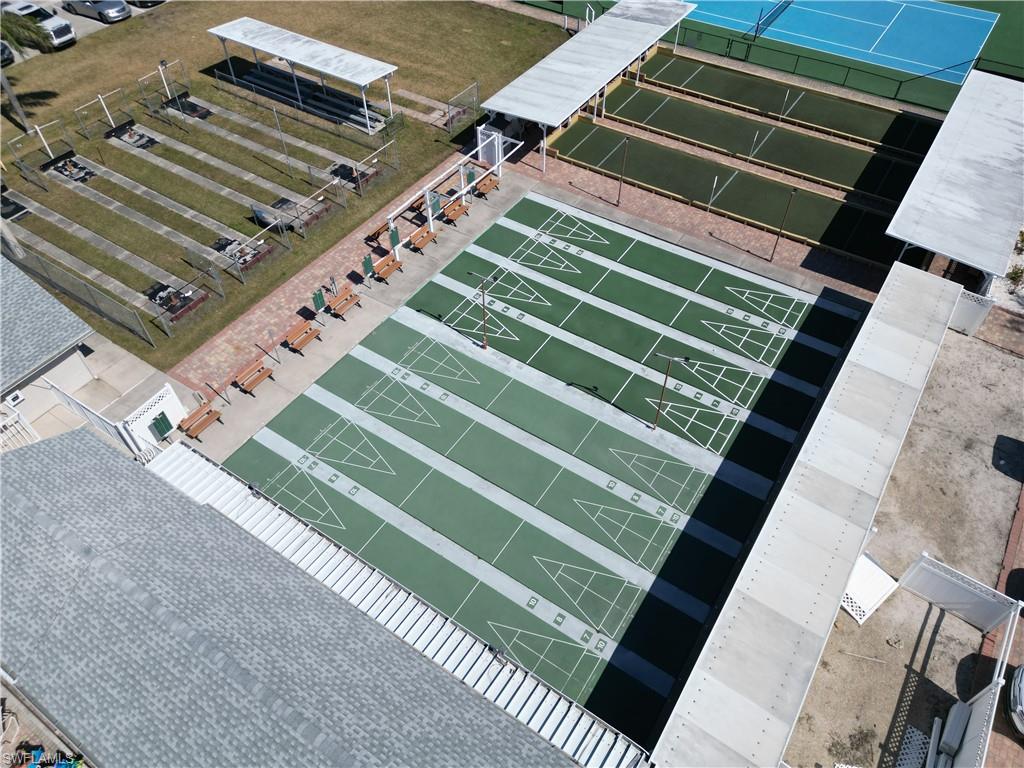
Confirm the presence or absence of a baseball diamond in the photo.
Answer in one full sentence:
No, there appears to be no baseball diamond in this shot.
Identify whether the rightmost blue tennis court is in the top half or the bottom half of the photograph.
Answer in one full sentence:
The rightmost blue tennis court sits in the top half of the picture.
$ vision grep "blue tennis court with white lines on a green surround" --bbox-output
[501,0,1024,113]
